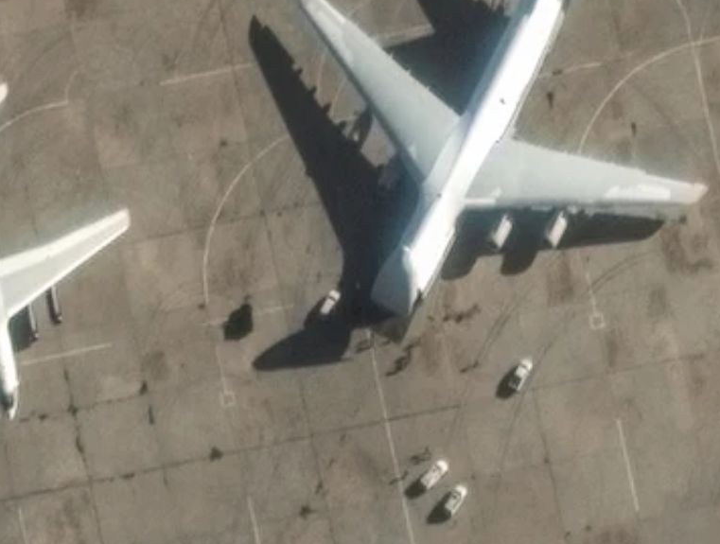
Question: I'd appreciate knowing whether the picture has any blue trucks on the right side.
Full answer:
No, no blue truck appears on the right side.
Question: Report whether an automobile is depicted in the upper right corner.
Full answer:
No, there's no automobile to be seen in the upper right corner.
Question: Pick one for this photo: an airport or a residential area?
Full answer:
What you see here is an airport.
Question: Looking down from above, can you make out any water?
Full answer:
No, there's no water in this view.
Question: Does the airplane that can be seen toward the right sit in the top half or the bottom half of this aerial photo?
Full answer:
The airplane that can be seen toward the right is in the top half of the image.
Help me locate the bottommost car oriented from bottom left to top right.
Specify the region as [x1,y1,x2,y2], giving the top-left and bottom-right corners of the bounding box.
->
[442,487,467,517]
